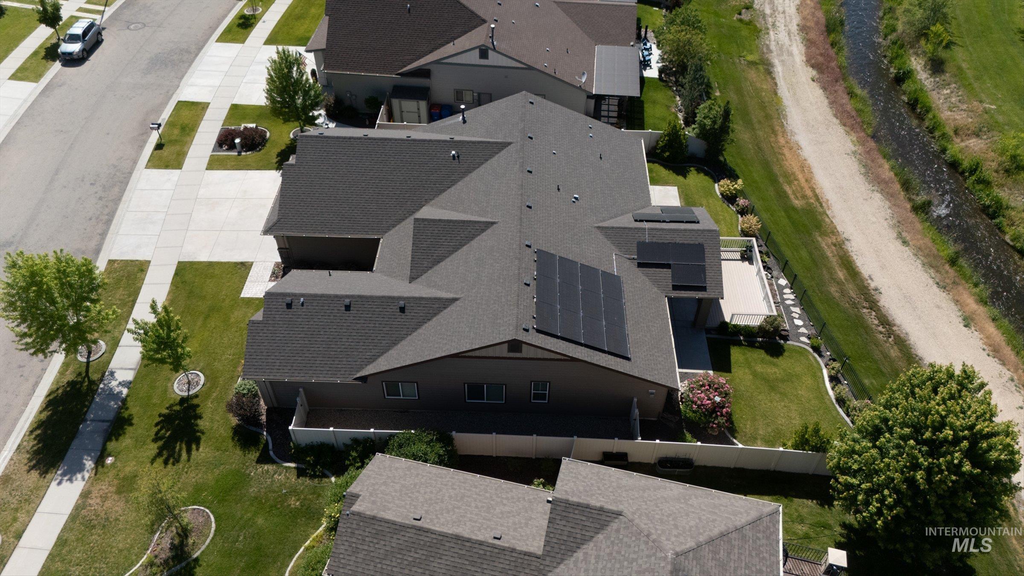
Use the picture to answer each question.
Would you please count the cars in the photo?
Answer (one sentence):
The photo contains exactly 1 car.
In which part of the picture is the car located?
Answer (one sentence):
The car is in the top left part of the image.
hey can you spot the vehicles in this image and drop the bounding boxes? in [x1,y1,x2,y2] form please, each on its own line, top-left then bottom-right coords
[54,14,104,60]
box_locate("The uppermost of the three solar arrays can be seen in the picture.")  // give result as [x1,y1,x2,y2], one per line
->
[632,207,701,224]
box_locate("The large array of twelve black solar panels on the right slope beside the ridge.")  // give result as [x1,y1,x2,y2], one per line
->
[531,248,630,360]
